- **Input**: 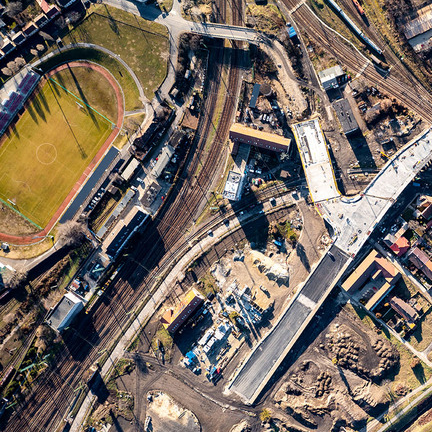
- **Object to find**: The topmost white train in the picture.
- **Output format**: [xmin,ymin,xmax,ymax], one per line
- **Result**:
[329,0,379,51]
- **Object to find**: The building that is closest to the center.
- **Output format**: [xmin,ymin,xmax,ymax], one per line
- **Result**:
[224,171,246,201]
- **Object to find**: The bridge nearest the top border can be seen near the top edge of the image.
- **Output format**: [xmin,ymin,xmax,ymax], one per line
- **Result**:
[173,17,275,48]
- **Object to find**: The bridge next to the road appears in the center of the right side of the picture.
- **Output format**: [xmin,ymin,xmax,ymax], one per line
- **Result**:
[229,118,432,402]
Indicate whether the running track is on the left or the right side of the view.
left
